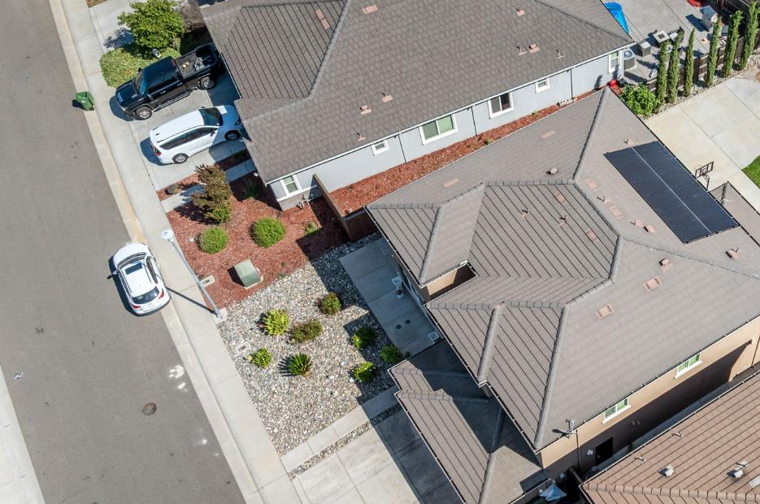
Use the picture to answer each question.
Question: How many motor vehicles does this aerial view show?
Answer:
3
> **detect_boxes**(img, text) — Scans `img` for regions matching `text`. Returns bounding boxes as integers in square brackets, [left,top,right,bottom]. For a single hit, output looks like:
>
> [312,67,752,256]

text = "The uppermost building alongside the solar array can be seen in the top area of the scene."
[199,0,636,210]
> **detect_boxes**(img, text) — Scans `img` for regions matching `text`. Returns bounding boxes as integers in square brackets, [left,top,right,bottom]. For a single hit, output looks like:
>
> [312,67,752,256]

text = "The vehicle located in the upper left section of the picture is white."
[141,104,244,164]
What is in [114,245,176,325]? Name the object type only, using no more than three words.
car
